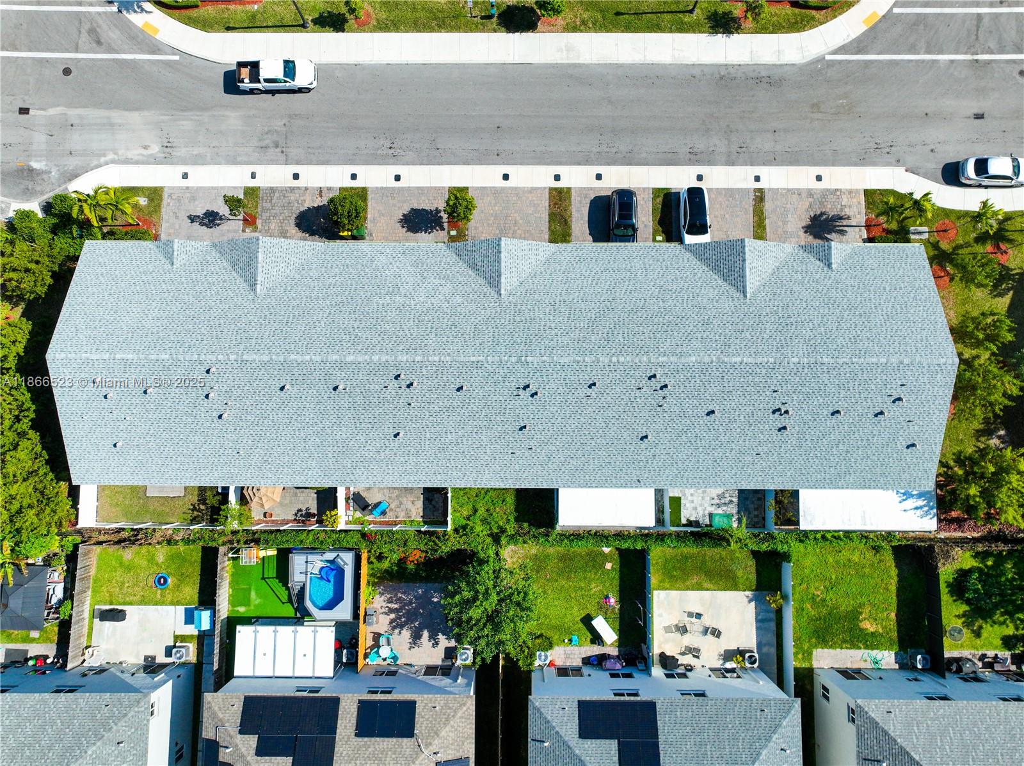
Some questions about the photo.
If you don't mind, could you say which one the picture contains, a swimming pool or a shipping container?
swimming pool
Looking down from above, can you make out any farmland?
No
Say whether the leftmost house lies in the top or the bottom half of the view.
bottom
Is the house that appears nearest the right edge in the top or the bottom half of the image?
bottom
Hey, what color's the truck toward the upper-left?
white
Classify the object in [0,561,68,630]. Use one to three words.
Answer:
gazebo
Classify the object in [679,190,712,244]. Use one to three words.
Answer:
car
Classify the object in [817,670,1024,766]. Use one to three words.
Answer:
house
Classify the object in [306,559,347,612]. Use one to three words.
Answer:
swimming pool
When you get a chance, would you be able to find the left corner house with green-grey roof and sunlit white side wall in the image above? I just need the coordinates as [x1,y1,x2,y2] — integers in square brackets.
[0,660,189,766]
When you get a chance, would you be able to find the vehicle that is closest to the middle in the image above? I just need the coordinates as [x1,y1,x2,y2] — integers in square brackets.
[608,194,641,241]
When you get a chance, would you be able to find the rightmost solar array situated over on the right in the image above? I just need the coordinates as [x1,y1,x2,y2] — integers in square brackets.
[576,701,661,766]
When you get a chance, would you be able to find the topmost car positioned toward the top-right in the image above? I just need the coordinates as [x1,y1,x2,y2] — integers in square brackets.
[955,155,1024,186]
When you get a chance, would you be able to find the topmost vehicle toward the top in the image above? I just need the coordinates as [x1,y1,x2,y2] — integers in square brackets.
[235,57,319,94]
